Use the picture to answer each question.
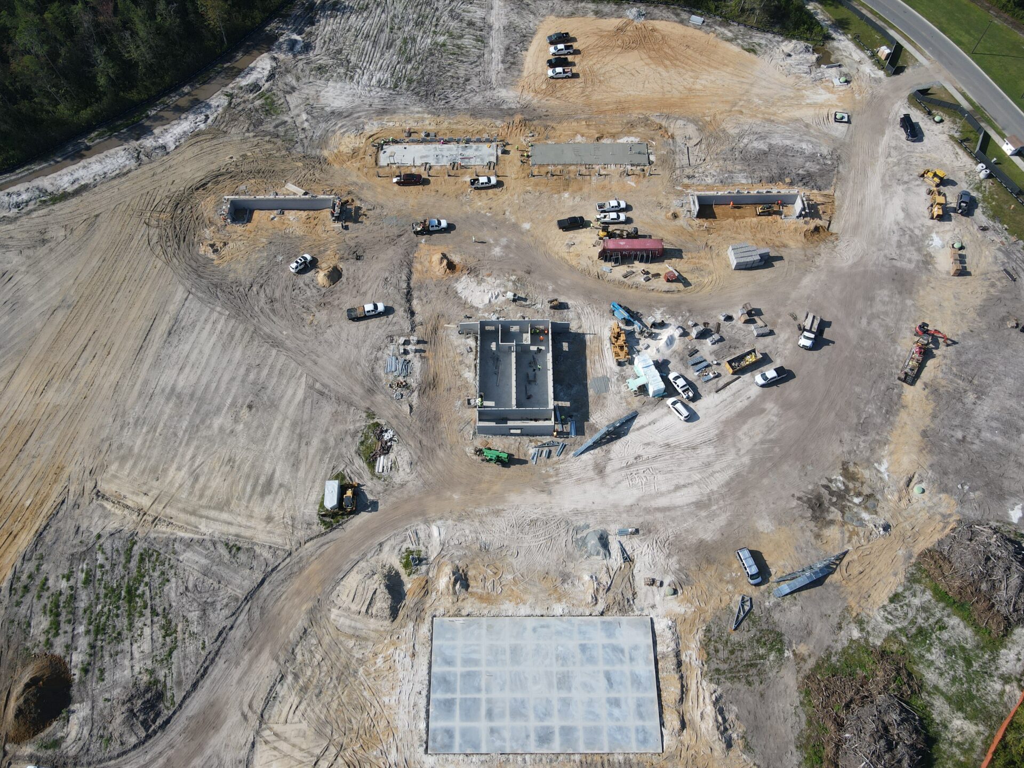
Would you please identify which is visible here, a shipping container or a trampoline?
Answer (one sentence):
This aerial view contains a shipping container.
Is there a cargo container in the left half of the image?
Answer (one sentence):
No, no cargo container can be made out in the left half of the image.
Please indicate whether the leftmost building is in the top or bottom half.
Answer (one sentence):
The top half of the photo is where the leftmost building is.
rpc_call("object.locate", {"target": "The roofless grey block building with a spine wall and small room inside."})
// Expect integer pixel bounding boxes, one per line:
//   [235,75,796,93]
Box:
[461,320,568,434]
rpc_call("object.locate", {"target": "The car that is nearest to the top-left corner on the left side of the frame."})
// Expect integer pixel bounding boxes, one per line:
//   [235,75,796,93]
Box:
[288,256,316,273]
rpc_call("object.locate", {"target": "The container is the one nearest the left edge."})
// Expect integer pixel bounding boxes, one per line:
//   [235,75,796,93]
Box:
[597,231,667,256]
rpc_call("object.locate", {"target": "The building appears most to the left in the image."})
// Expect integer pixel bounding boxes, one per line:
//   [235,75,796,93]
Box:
[223,199,331,223]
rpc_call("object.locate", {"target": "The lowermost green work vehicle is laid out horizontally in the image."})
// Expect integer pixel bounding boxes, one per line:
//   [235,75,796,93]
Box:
[470,445,511,465]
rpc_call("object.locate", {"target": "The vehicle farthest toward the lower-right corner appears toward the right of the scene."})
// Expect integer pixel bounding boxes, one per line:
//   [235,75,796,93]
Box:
[733,549,760,589]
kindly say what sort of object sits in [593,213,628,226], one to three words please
vehicle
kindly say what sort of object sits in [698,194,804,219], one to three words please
building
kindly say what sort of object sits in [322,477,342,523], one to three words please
trailer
